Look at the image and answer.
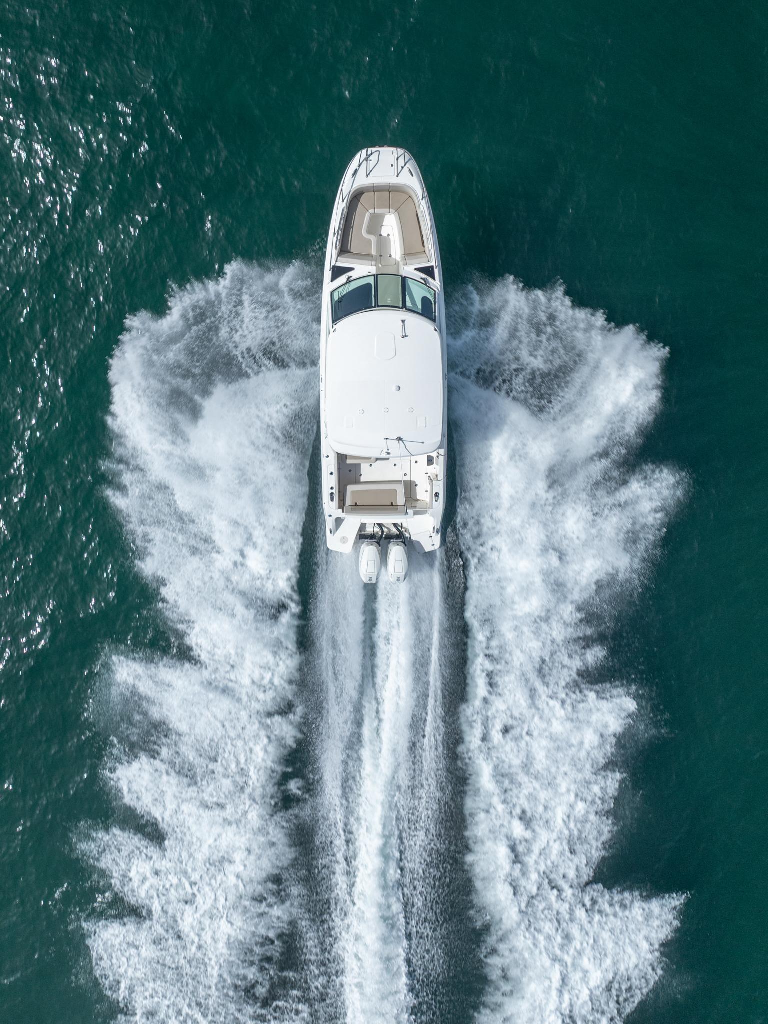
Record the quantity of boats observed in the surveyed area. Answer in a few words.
1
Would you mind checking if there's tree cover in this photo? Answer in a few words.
No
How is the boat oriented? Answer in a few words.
up and down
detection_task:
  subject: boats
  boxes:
[320,145,448,584]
